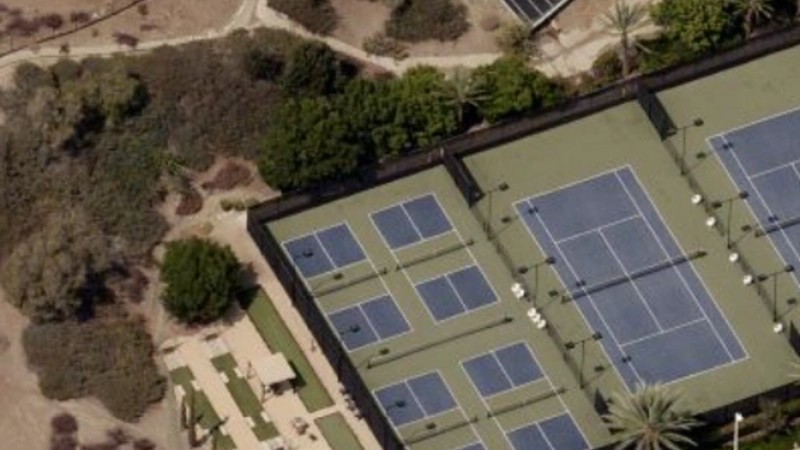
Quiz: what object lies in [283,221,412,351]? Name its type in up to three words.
sports court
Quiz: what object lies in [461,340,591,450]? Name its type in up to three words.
sports court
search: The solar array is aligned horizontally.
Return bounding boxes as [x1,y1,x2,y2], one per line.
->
[494,0,573,34]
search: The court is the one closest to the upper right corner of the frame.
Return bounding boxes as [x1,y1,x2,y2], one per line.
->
[708,109,800,282]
